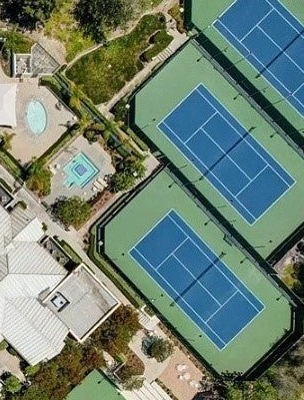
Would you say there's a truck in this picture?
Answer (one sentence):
No, the frame has no truck in it.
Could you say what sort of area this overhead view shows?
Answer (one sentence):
This looks like a sports ground.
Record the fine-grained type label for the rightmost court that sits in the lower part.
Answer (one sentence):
I'd say the rightmost court that sits in the lower part is a tennis court.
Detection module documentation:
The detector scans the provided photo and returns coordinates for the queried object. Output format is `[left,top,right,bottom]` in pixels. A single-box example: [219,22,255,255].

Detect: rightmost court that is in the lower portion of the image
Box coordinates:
[104,168,293,376]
